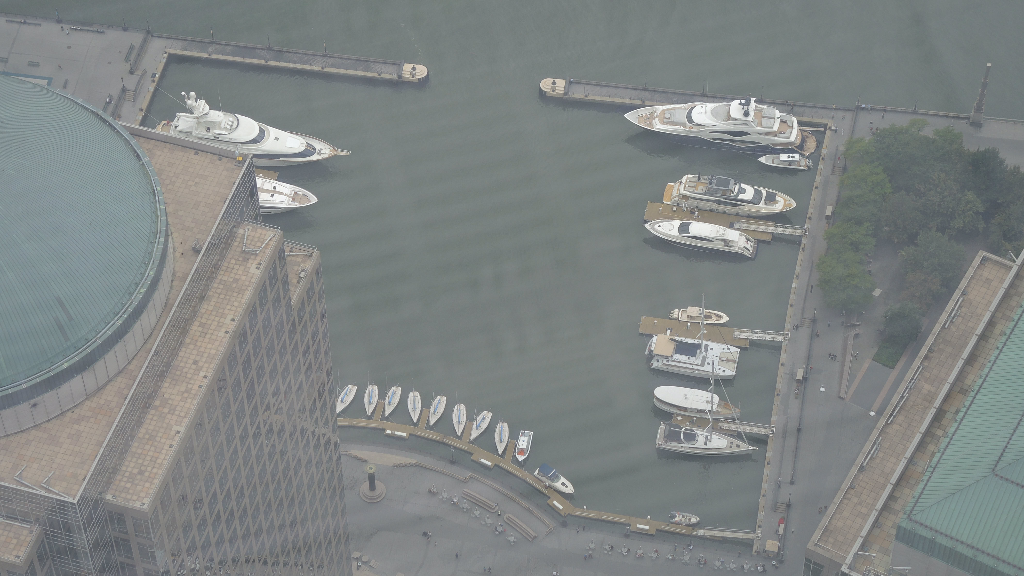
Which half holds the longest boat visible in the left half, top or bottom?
top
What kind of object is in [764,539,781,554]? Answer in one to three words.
umbrella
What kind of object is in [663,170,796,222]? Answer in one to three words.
boat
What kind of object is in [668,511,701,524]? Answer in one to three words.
boat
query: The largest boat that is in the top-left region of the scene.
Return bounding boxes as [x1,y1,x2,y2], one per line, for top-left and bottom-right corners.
[158,88,350,168]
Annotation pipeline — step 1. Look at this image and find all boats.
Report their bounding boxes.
[472,406,493,440]
[453,399,467,436]
[408,384,422,423]
[263,179,317,214]
[495,415,510,455]
[668,511,701,524]
[657,360,758,455]
[624,92,834,158]
[337,376,356,414]
[532,466,573,495]
[653,386,740,419]
[514,431,532,463]
[385,379,402,416]
[364,377,379,416]
[430,391,447,426]
[644,293,740,380]
[645,221,757,258]
[758,153,811,172]
[663,170,796,222]
[158,88,350,168]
